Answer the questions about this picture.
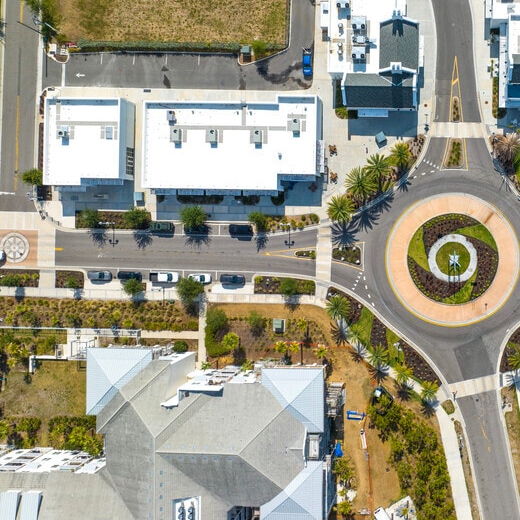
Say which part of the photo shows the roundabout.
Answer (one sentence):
You can find the roundabout in the right area of the picture.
